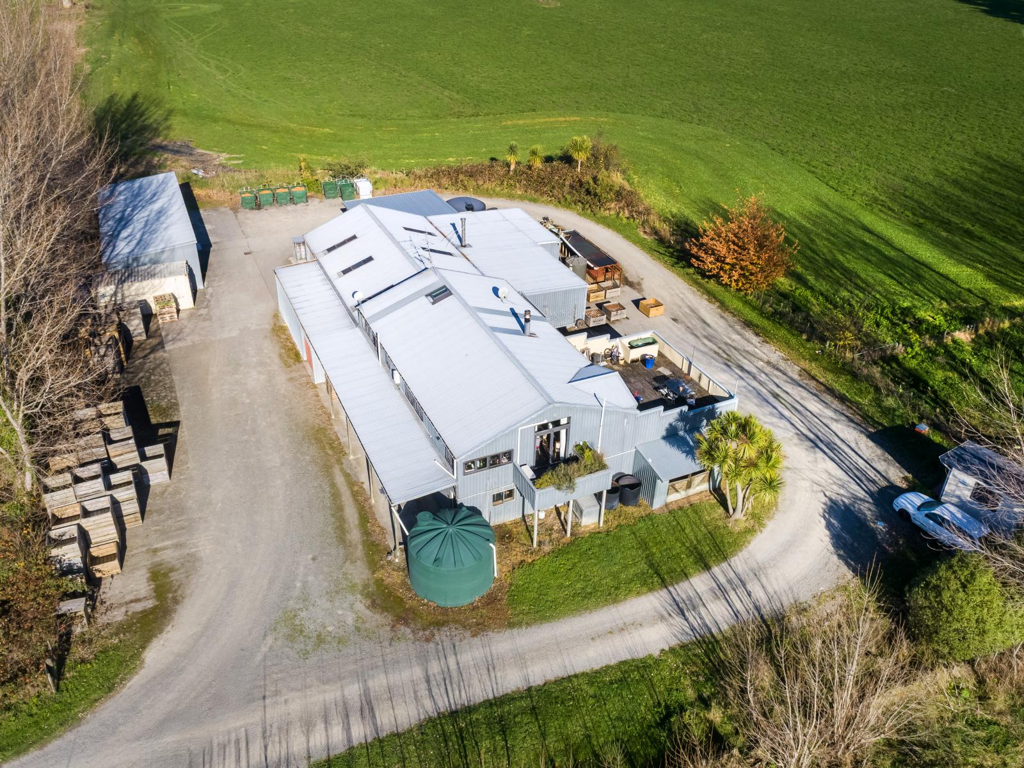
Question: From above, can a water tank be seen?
Yes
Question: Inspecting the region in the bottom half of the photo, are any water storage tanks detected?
Yes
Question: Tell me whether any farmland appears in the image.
Yes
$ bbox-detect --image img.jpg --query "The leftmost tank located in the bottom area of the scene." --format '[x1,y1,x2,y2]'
[407,503,497,605]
